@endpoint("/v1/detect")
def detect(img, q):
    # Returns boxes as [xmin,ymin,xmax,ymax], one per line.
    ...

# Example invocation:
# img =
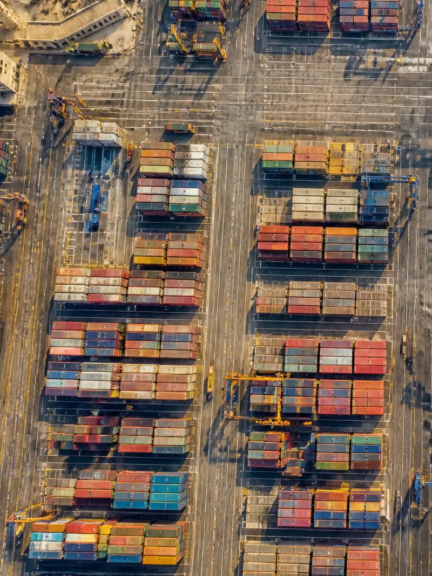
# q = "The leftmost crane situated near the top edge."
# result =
[168,17,229,58]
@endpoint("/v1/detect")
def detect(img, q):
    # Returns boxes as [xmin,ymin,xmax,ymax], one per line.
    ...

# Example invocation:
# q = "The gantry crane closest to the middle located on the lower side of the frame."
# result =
[226,372,288,423]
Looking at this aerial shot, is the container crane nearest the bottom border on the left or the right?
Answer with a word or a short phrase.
left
